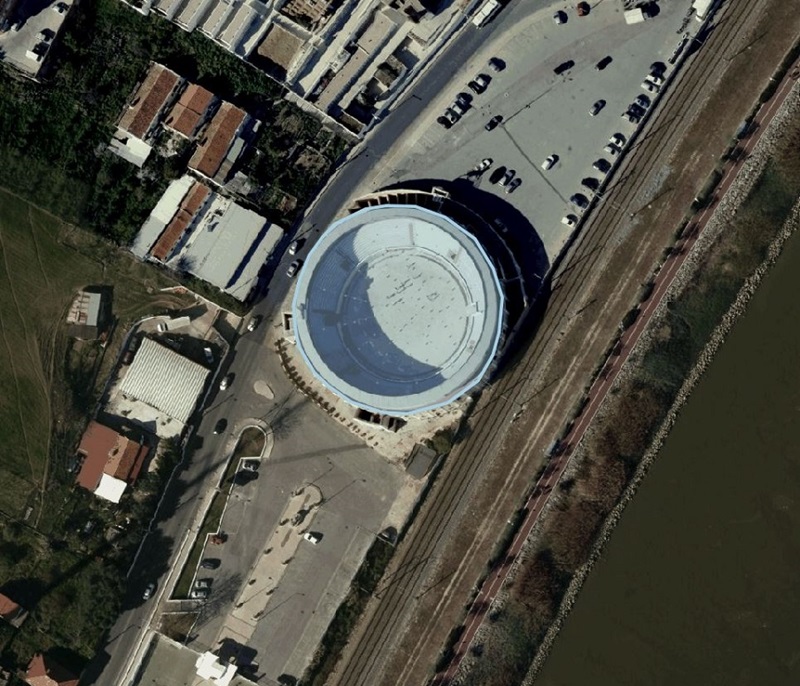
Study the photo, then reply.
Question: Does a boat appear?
No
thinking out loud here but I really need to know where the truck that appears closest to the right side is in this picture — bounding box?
[693,0,715,24]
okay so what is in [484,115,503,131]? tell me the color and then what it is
black car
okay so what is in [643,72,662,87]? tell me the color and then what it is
white car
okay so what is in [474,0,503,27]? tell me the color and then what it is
white truck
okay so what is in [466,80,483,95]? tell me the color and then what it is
black car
